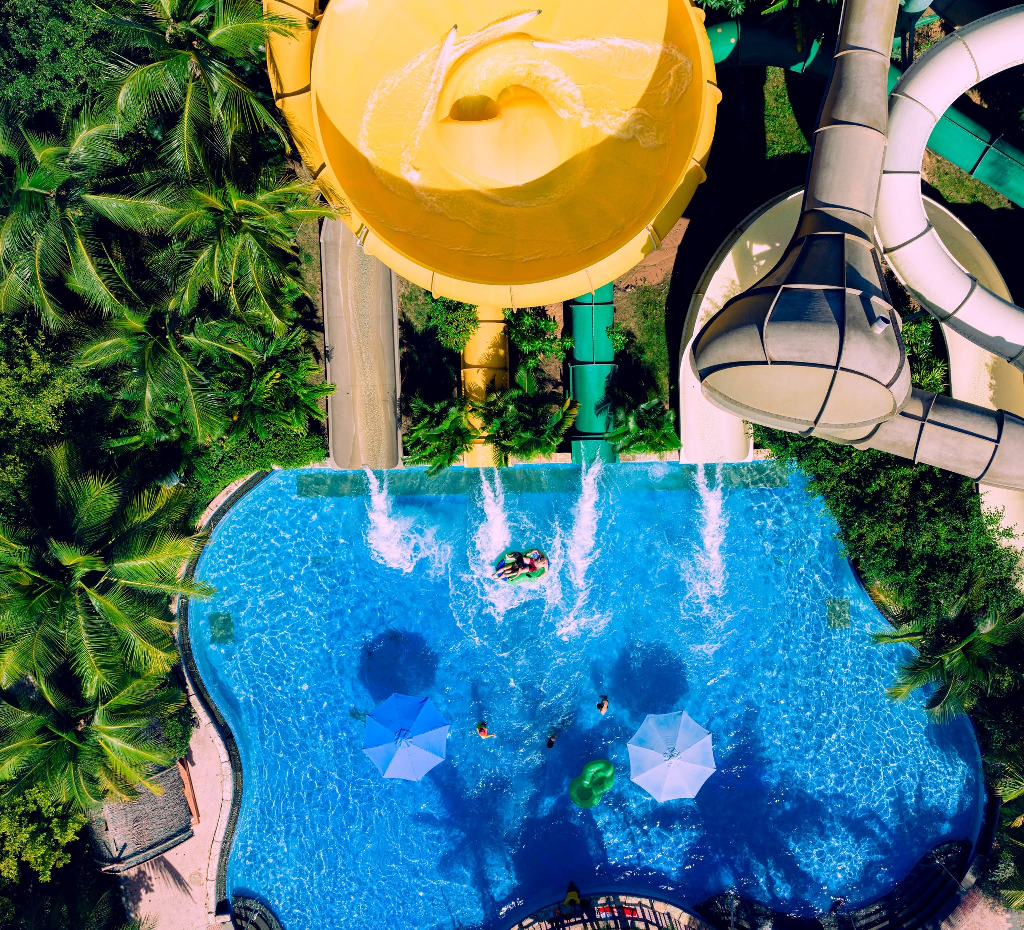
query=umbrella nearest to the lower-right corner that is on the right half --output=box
[625,710,717,804]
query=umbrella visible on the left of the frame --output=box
[364,692,451,781]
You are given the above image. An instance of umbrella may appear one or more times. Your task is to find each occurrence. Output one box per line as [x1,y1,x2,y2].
[625,710,717,804]
[364,692,451,781]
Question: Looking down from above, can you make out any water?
Yes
